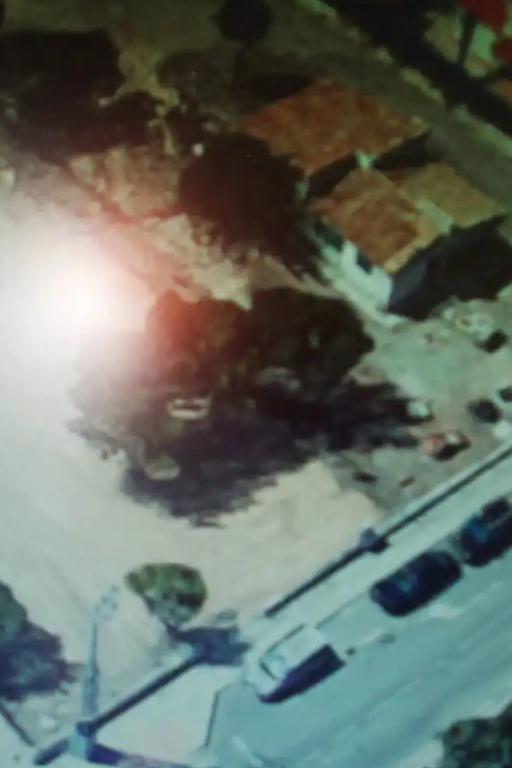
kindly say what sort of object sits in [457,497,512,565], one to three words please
car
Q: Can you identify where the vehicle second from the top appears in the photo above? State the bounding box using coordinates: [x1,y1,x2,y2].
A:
[374,543,468,622]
